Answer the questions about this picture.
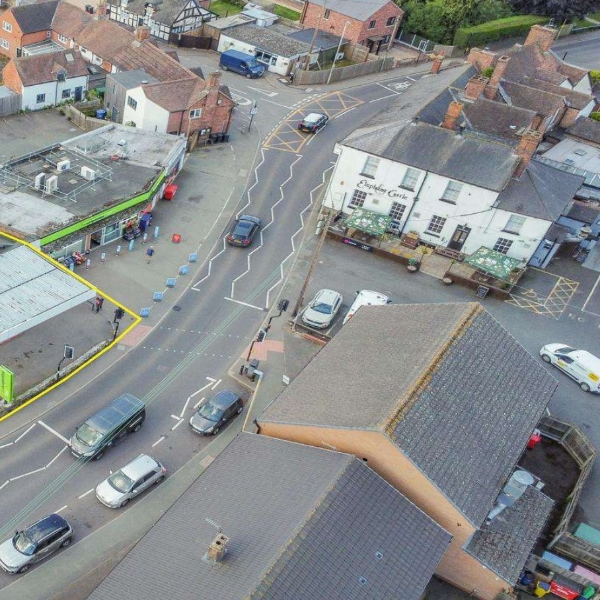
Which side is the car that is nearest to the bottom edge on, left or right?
left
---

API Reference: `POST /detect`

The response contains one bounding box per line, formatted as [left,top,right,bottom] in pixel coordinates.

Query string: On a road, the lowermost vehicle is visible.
[0,503,81,574]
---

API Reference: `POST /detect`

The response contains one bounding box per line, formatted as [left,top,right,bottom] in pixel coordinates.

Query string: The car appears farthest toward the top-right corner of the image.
[299,109,330,132]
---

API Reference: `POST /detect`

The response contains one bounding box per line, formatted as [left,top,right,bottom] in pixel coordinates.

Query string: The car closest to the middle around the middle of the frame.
[306,275,351,326]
